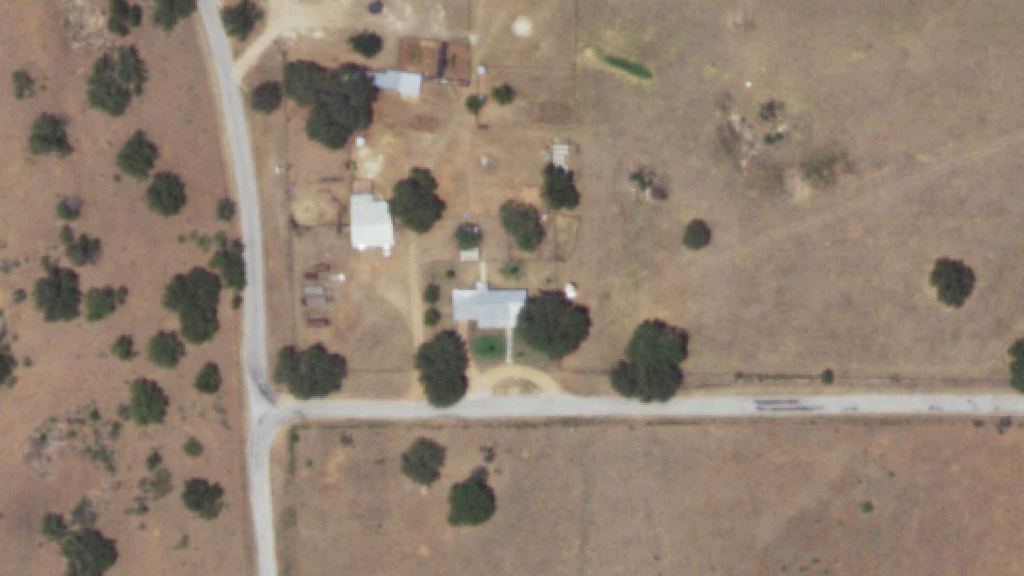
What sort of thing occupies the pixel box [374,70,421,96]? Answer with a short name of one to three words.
shed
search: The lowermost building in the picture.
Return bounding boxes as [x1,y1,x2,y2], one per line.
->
[452,282,526,328]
